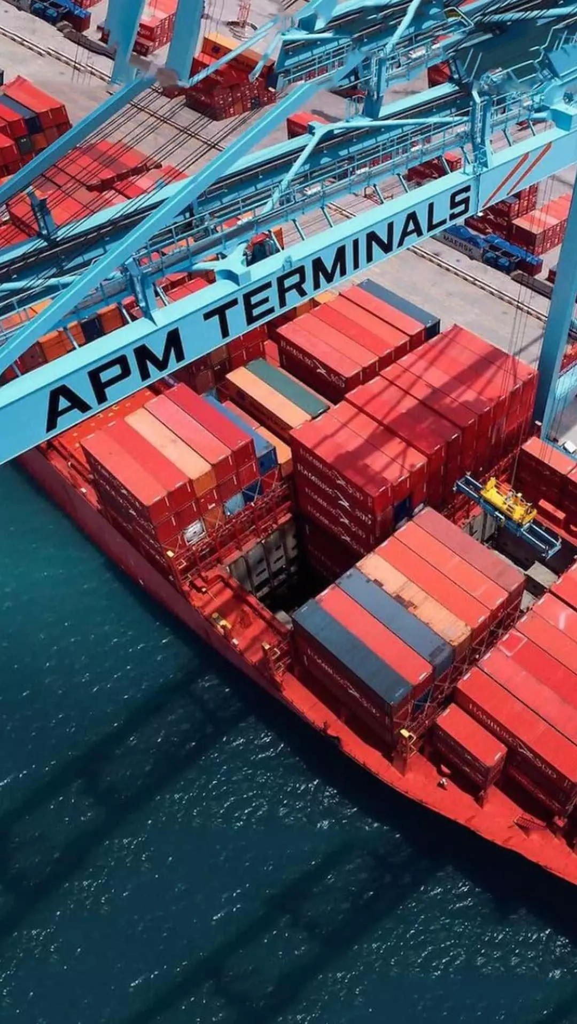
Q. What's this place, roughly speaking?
port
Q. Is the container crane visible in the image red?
No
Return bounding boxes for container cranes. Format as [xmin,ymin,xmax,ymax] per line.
[0,0,577,465]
